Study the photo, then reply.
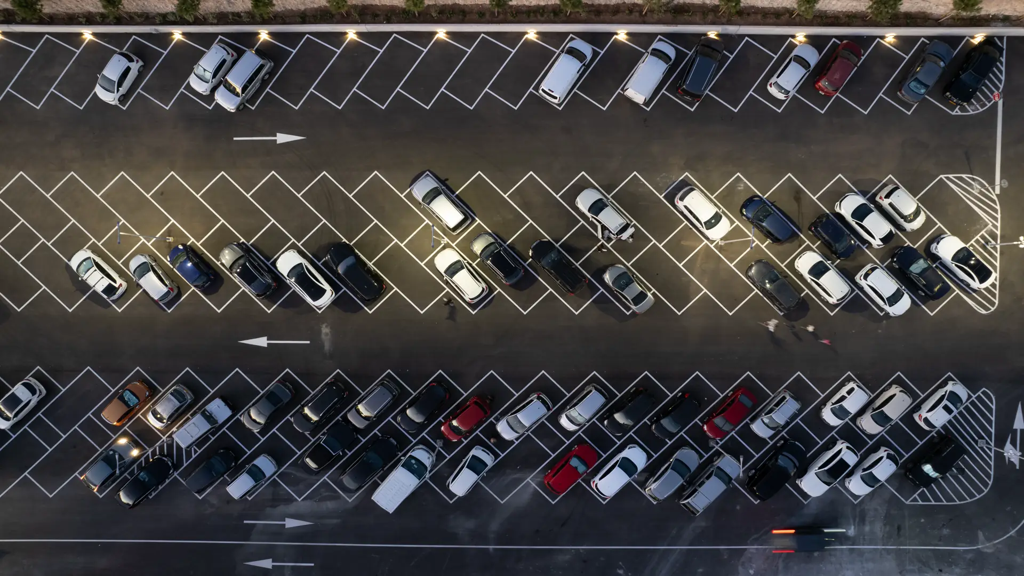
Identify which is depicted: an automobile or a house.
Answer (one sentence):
It is an automobile that can be seen here.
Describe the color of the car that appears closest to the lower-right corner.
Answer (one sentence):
From above, the car that appears closest to the lower-right corner appears black.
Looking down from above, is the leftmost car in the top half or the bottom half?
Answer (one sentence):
The leftmost car is in the bottom half of the image.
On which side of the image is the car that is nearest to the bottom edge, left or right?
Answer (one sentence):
You can find the car that is nearest to the bottom edge on the right side of the picture.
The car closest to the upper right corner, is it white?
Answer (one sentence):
No, the color of the car closest to the upper right corner is black.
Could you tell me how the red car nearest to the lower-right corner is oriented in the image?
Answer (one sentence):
What the image shows is the red car nearest to the lower-right corner lying diagonally.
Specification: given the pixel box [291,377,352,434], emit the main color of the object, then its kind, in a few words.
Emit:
black car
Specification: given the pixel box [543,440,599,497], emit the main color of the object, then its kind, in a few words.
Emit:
red car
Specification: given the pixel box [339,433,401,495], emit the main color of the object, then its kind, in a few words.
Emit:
black car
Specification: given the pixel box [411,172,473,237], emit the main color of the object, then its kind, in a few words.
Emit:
white car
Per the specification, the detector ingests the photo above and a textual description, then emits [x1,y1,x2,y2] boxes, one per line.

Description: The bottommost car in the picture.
[778,524,837,558]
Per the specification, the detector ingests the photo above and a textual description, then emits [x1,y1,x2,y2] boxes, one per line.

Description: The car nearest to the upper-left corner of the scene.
[98,50,143,104]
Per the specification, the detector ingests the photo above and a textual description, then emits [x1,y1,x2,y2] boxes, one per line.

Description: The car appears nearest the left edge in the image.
[0,377,49,430]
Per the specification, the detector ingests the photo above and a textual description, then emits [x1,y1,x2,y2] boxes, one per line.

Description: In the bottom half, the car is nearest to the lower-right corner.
[903,434,975,492]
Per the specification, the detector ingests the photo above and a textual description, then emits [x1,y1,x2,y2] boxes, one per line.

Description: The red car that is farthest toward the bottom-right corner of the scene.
[701,385,760,441]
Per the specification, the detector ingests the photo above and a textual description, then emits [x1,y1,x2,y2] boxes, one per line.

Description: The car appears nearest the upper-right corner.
[944,38,1004,108]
